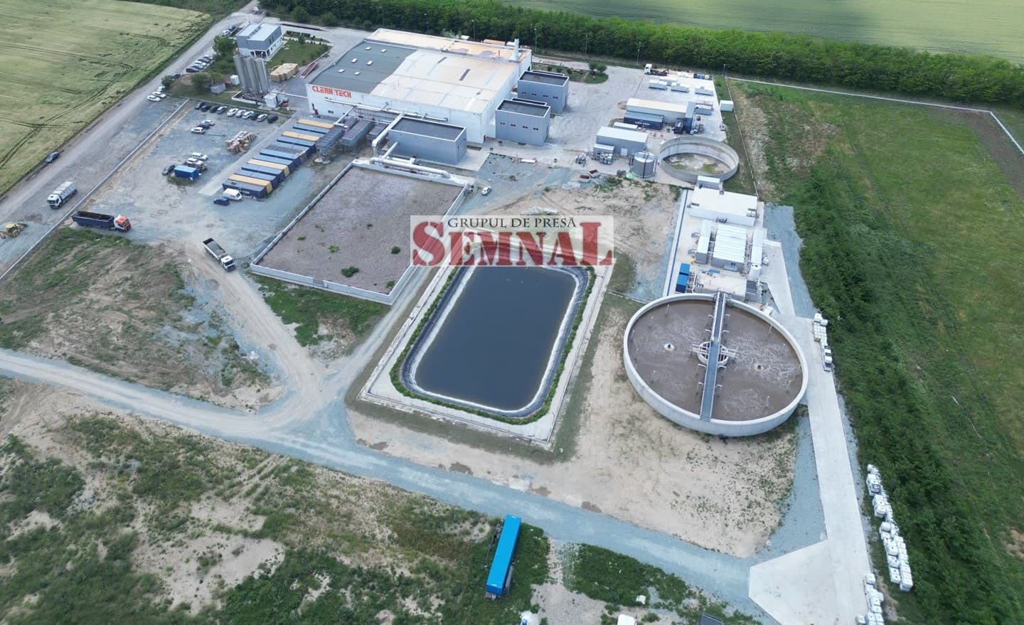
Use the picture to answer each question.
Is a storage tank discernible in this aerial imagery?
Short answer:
Yes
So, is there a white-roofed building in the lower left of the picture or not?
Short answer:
No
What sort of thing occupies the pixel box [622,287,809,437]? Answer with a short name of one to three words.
storage tank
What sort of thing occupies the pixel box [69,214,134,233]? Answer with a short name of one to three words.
vehicle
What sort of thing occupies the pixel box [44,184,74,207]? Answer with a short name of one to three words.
truck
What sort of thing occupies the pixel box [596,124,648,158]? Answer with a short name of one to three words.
shed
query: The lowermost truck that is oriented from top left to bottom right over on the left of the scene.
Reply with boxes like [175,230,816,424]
[198,237,232,271]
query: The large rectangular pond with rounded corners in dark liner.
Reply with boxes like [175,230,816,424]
[392,238,594,421]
